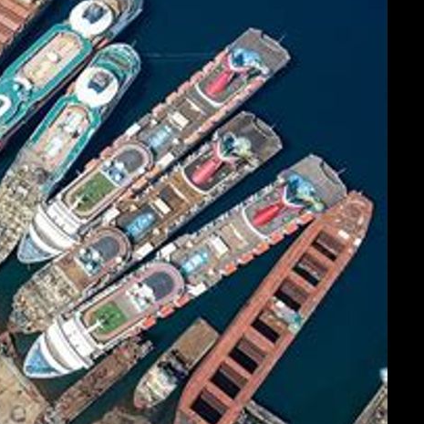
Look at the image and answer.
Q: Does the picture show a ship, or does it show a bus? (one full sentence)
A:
I can see a ship in this picture.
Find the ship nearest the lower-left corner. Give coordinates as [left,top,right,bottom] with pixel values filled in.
[34,337,154,424]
